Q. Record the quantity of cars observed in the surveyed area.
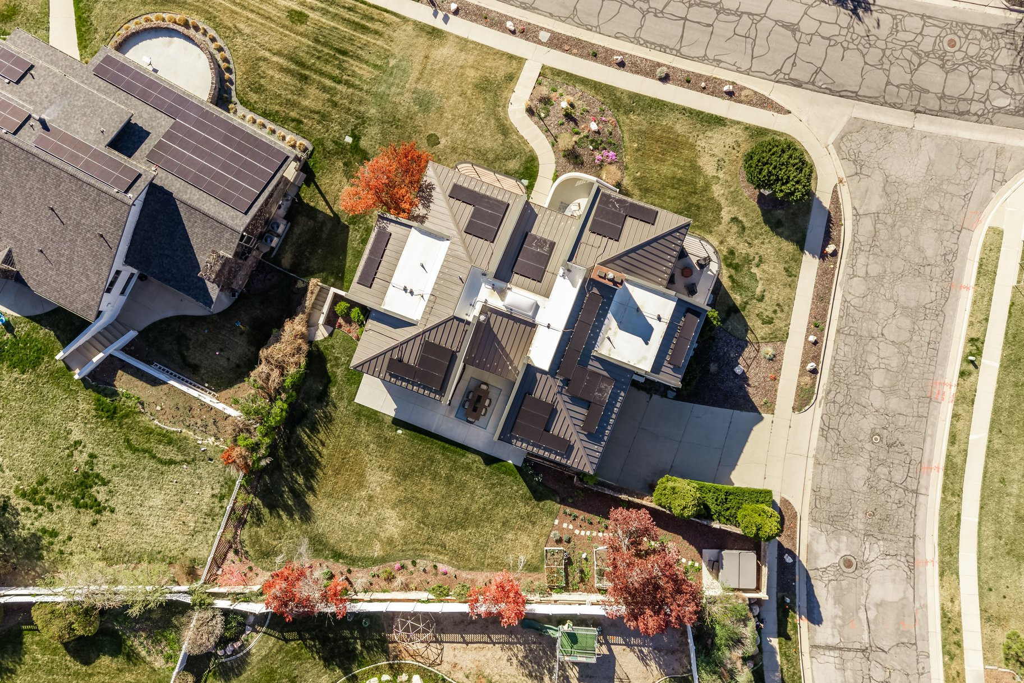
0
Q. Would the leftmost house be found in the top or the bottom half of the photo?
top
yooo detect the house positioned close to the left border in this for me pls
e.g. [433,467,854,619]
[0,19,312,328]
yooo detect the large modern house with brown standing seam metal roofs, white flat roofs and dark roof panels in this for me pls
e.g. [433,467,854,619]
[345,162,712,475]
